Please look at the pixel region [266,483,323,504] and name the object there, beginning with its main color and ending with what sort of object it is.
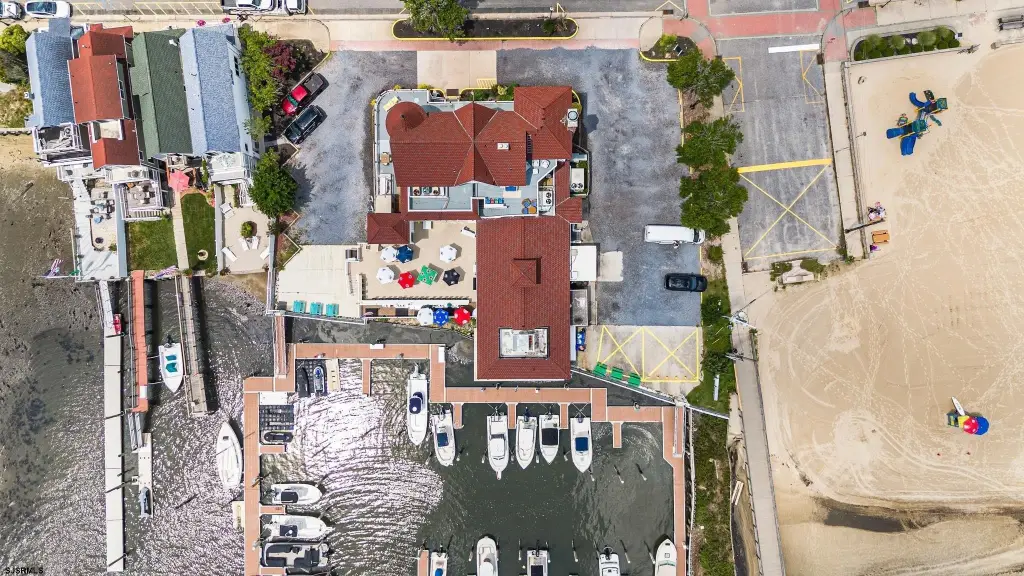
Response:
white boat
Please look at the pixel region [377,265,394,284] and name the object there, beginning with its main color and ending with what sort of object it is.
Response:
white umbrella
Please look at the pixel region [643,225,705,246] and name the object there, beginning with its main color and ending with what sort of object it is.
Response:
white vehicle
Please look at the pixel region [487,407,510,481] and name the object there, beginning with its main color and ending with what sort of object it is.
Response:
white boat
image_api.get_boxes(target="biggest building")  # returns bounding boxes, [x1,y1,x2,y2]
[367,86,582,383]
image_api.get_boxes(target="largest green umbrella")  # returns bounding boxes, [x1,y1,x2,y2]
[417,264,439,285]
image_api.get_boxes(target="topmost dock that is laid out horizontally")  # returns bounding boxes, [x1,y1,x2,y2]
[296,344,430,359]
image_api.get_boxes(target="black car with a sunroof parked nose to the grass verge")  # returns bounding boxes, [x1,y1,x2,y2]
[663,272,705,292]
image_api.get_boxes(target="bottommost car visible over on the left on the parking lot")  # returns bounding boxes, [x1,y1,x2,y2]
[286,106,327,144]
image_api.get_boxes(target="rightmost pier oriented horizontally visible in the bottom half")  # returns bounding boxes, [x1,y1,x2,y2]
[608,405,662,422]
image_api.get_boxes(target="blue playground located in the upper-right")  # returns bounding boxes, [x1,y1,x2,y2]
[887,91,954,156]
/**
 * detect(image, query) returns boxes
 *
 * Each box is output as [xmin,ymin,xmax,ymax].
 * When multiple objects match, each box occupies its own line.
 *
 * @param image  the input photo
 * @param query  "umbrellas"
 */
[443,268,460,286]
[377,265,394,284]
[974,415,990,434]
[417,264,439,285]
[439,245,457,262]
[417,307,434,326]
[396,245,414,261]
[962,417,977,431]
[168,170,191,193]
[380,245,397,263]
[398,271,415,288]
[453,308,470,324]
[433,308,449,325]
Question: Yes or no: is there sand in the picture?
Yes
